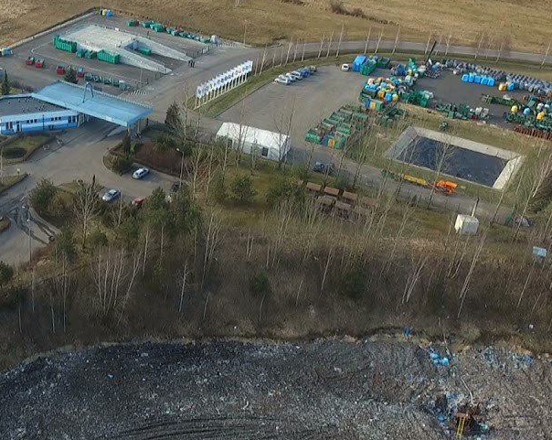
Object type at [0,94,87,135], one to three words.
building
